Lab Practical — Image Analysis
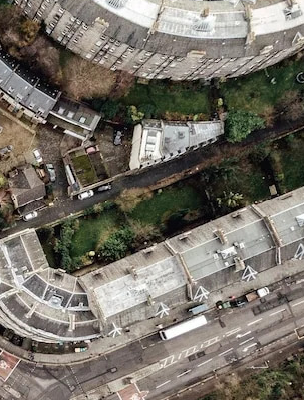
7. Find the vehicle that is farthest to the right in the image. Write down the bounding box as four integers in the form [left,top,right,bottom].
[245,288,272,302]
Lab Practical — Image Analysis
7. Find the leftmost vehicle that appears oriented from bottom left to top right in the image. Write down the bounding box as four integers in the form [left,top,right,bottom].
[0,141,17,156]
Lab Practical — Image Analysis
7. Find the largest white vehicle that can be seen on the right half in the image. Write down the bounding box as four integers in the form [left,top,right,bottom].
[161,315,212,340]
